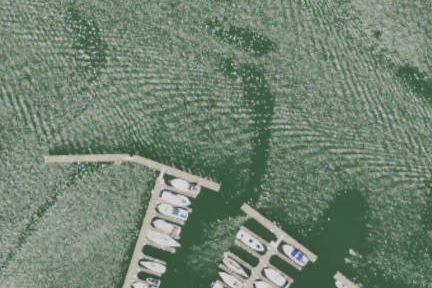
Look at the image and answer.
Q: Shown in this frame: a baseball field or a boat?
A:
boat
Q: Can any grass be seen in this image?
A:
No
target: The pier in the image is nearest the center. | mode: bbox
[128,156,220,192]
